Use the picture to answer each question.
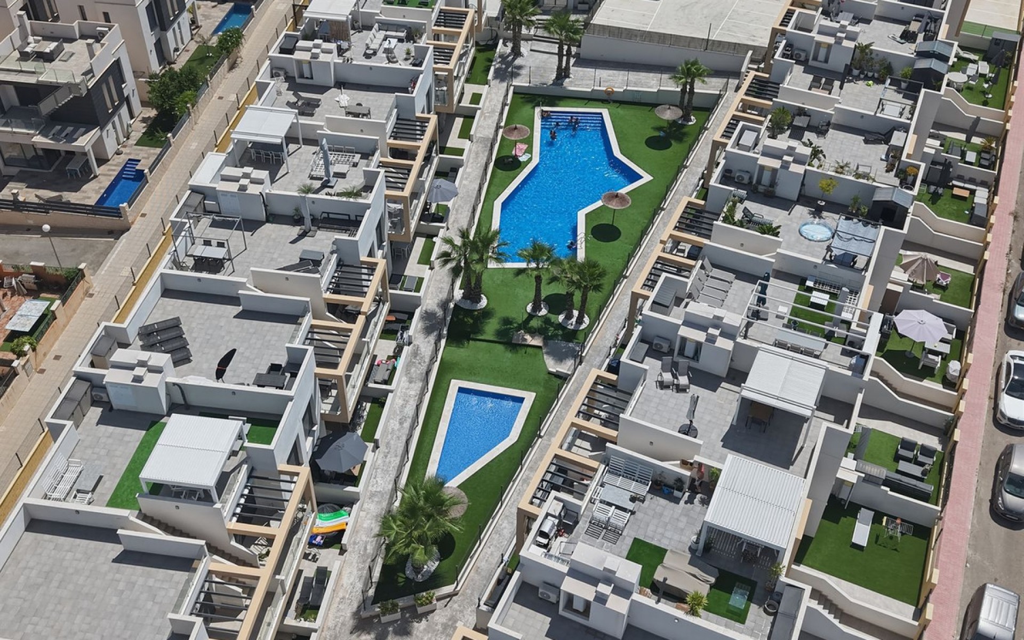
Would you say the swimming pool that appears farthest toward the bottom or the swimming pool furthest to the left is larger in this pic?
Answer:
the swimming pool that appears farthest toward the bottom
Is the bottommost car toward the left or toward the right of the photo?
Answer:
right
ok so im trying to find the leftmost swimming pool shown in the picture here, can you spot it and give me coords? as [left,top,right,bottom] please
[94,159,151,208]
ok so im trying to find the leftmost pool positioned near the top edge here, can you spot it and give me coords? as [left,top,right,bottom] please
[215,3,253,33]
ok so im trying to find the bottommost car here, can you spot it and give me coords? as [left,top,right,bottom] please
[961,578,1017,640]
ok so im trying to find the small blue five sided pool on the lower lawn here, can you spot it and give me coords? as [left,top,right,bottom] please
[427,379,535,489]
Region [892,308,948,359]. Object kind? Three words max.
umbrella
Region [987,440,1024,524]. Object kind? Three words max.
car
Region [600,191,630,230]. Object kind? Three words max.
umbrella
